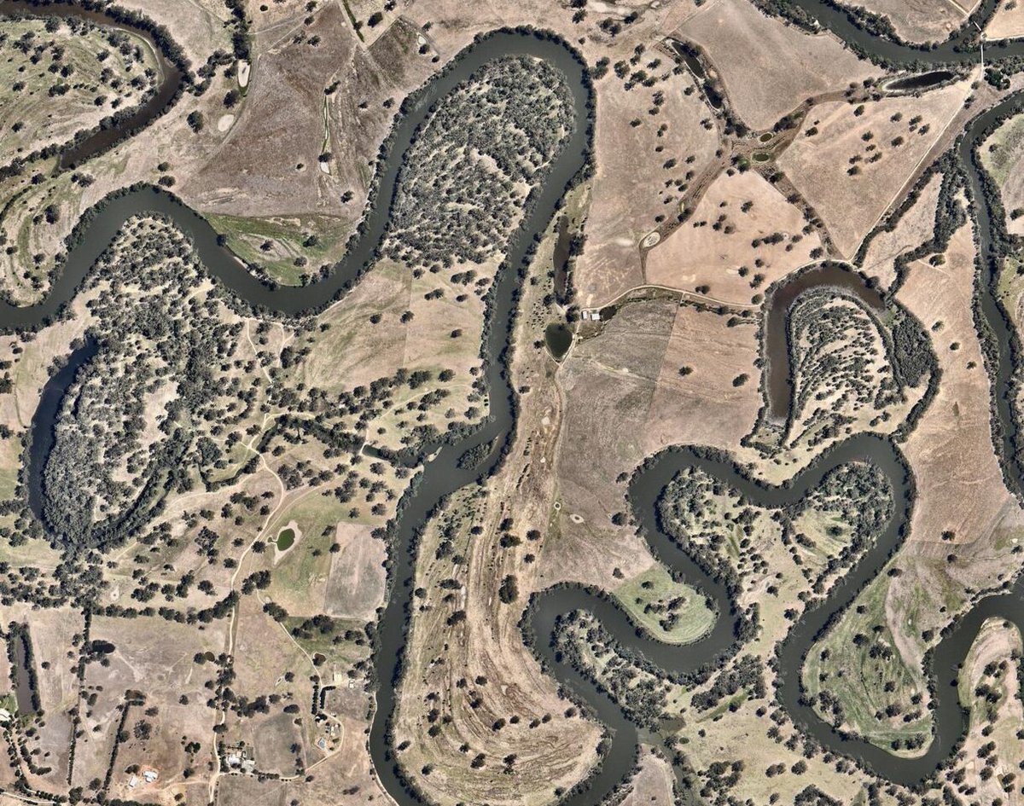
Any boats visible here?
No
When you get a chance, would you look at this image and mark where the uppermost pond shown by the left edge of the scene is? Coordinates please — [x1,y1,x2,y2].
[28,338,97,541]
